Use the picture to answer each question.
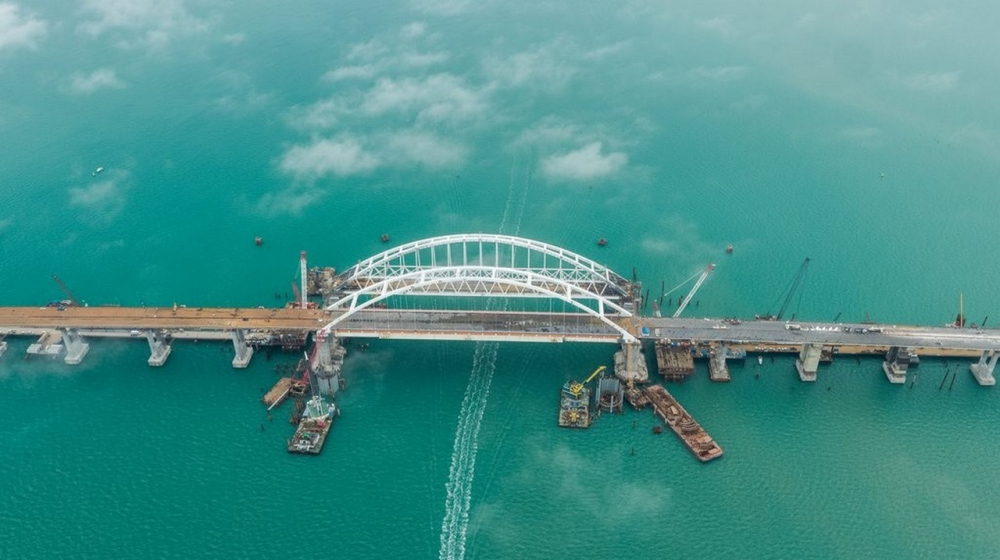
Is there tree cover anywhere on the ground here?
No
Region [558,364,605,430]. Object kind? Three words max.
ship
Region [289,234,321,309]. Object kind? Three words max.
ship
